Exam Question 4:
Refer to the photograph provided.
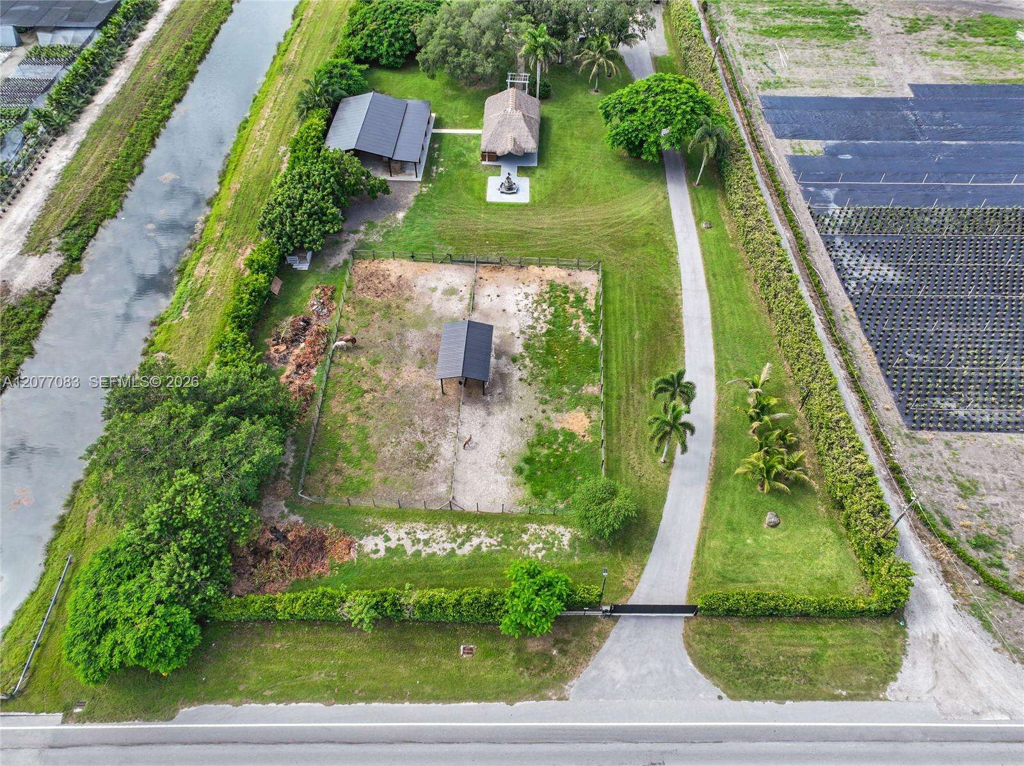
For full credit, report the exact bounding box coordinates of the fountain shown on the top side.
[498,170,519,195]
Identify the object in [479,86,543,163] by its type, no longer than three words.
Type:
shed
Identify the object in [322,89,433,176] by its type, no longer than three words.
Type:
barn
